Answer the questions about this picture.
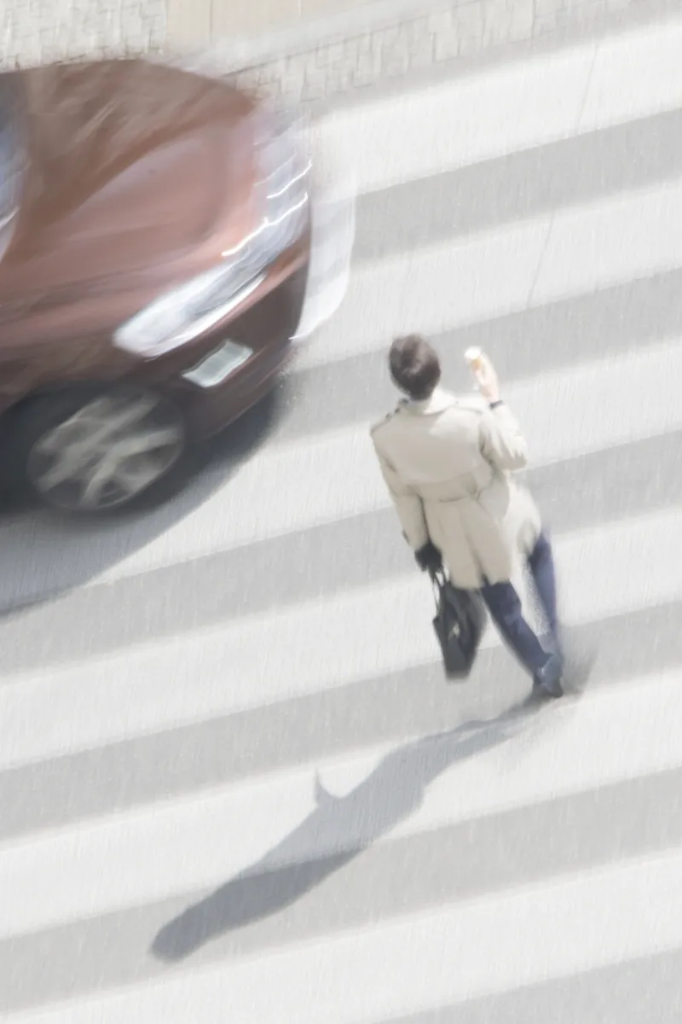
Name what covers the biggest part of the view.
paved ground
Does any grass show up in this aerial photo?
No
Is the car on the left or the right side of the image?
left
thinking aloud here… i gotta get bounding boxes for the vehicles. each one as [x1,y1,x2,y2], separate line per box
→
[0,66,307,524]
